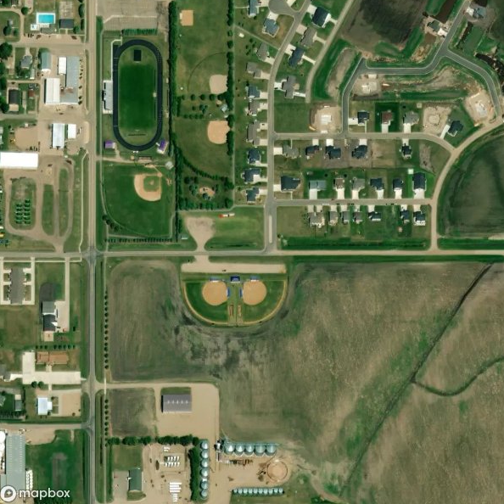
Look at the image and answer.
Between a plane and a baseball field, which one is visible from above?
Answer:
baseball field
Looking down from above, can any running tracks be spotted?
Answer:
Yes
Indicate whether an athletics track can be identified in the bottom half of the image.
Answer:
No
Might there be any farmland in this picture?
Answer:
Yes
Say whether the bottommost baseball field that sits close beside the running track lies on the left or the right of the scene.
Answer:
left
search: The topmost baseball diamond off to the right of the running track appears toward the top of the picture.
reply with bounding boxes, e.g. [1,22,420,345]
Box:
[187,52,227,95]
